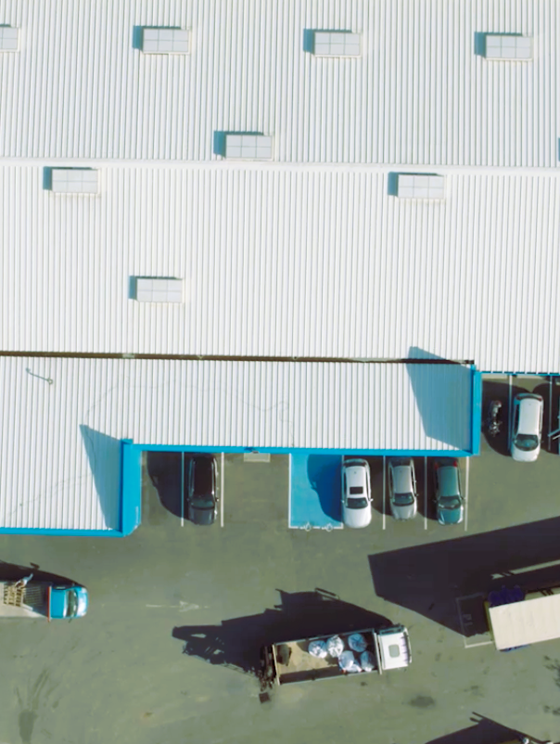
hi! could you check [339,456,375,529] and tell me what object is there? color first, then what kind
white car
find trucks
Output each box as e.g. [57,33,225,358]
[487,586,560,656]
[0,582,90,624]
[255,619,416,685]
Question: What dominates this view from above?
buildings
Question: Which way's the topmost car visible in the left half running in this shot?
vertically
